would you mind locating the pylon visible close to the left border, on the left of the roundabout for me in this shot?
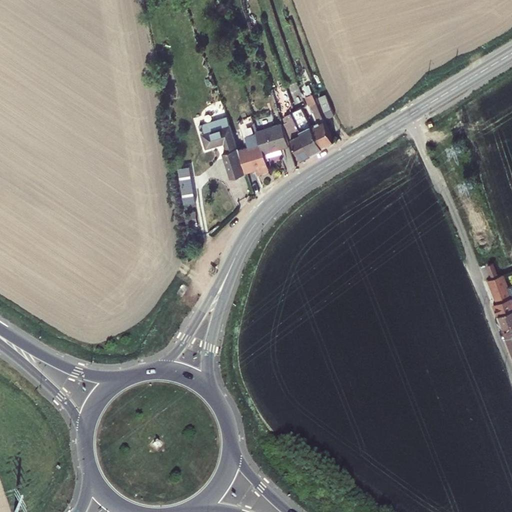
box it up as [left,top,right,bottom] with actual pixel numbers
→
[10,486,32,512]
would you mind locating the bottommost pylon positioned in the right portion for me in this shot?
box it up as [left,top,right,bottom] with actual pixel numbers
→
[458,182,474,202]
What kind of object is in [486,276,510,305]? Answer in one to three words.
house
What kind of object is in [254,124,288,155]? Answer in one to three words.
house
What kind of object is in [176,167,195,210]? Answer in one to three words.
shed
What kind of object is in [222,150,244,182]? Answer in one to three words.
barn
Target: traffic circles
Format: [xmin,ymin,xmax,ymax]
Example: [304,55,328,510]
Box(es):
[76,362,239,512]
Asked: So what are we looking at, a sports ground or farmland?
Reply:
farmland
